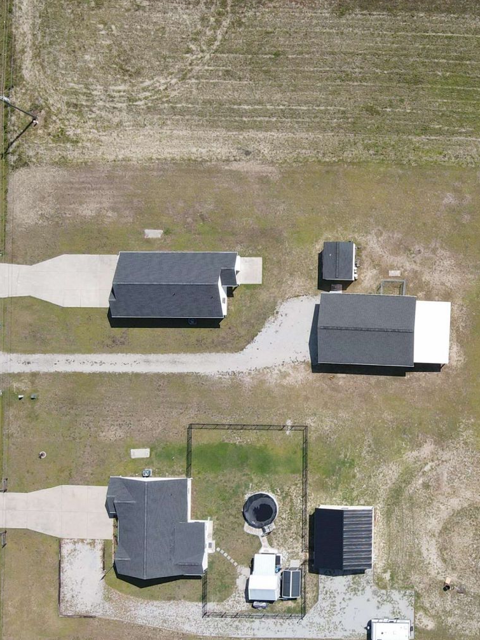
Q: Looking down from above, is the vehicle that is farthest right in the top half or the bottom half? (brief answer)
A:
bottom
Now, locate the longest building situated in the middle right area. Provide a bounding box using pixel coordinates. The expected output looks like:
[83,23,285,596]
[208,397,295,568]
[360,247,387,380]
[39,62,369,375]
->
[317,292,450,367]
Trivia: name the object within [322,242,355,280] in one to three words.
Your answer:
shed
